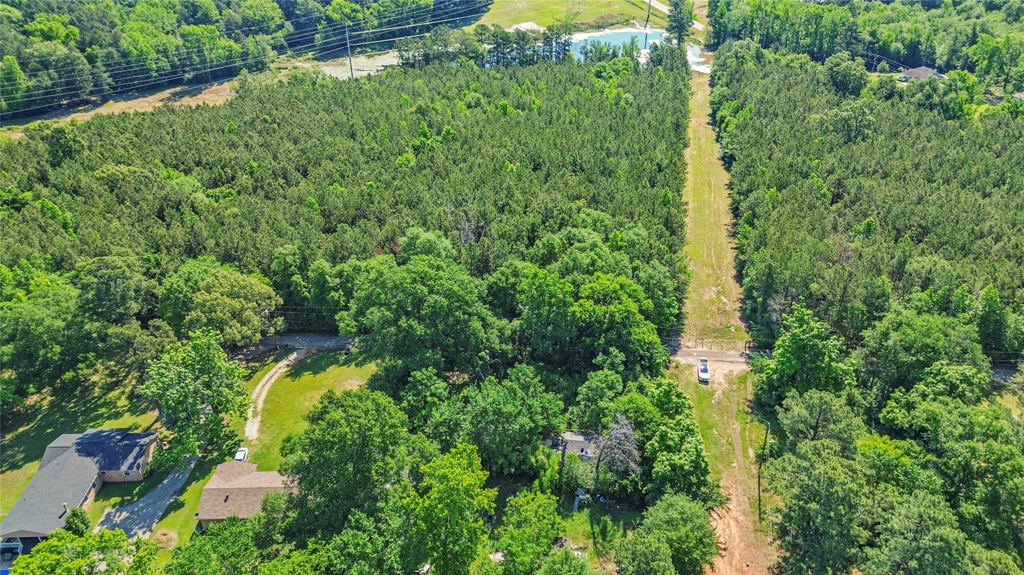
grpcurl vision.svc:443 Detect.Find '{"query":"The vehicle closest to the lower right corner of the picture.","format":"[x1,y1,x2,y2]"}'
[697,353,711,379]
